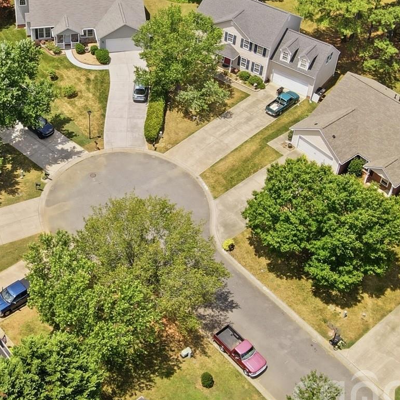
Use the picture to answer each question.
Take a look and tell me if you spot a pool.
No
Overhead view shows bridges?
No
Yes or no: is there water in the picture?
No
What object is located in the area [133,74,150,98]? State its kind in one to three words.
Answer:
car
